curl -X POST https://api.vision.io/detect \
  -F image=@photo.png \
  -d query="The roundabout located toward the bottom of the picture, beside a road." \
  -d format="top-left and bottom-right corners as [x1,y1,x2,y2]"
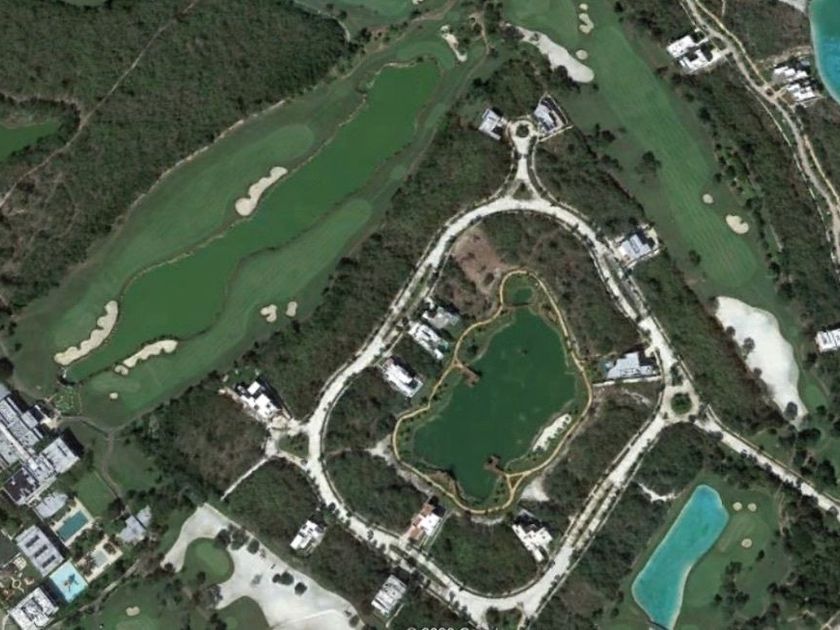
[662,386,700,422]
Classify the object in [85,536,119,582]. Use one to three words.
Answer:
swimming pool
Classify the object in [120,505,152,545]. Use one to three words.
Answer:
building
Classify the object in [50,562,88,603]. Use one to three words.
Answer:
swimming pool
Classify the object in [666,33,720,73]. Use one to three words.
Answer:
house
